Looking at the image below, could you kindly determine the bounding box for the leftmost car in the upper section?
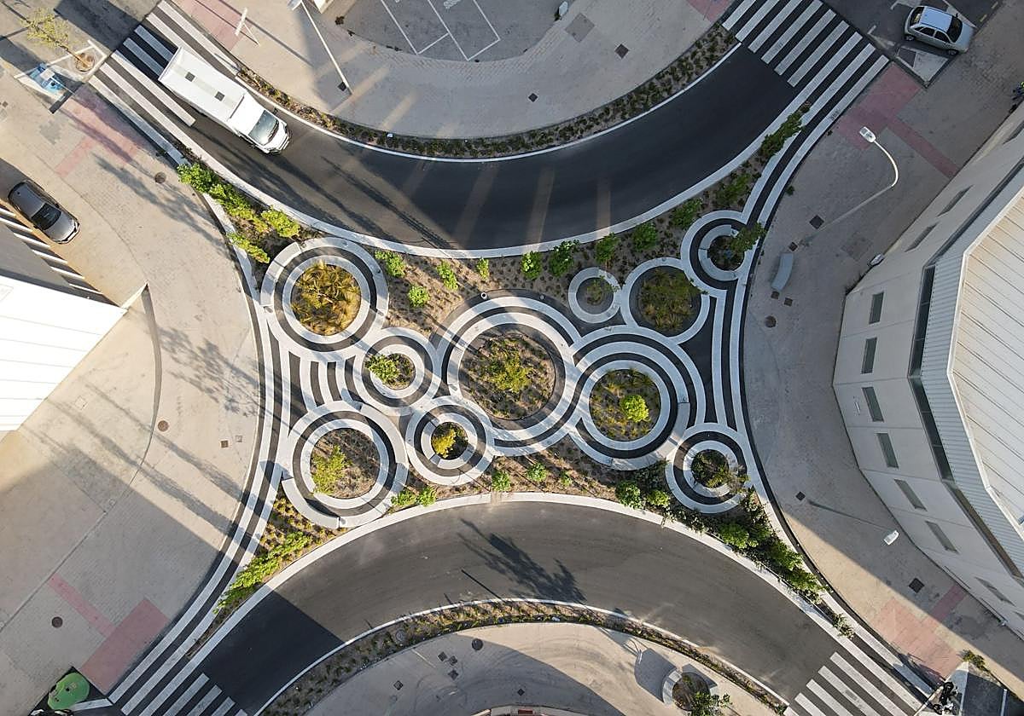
[6,177,81,242]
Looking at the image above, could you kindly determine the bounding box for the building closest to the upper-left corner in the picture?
[0,275,128,431]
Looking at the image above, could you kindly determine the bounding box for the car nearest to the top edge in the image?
[901,0,978,54]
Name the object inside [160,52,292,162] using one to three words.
truck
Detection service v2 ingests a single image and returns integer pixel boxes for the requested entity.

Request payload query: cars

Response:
[6,177,81,242]
[901,0,978,54]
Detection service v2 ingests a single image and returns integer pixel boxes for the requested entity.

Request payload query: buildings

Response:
[0,275,128,431]
[833,106,1024,638]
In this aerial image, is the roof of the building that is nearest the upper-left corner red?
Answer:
No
